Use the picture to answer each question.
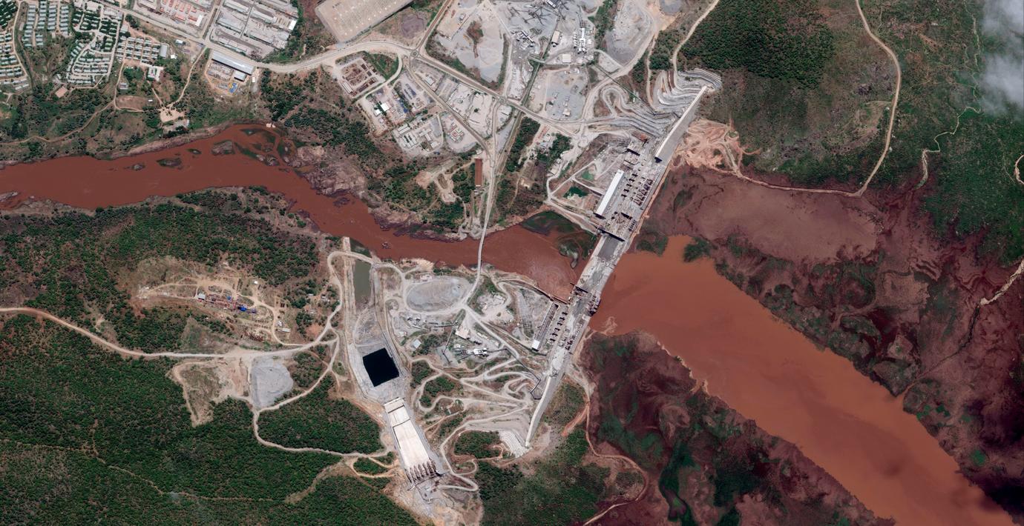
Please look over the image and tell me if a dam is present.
Yes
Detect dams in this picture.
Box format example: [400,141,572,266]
[526,85,706,445]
